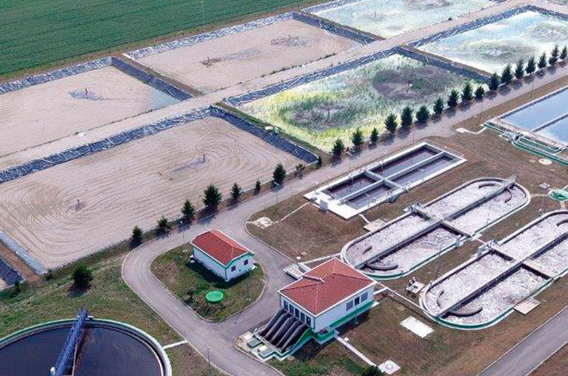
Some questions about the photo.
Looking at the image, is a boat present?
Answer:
No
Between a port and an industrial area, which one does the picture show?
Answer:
industrial area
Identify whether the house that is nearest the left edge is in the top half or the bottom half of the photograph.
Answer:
bottom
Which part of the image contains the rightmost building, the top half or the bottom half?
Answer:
bottom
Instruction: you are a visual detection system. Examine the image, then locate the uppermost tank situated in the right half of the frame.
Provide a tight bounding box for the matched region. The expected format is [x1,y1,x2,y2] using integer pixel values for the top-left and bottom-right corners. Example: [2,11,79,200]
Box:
[303,139,469,220]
